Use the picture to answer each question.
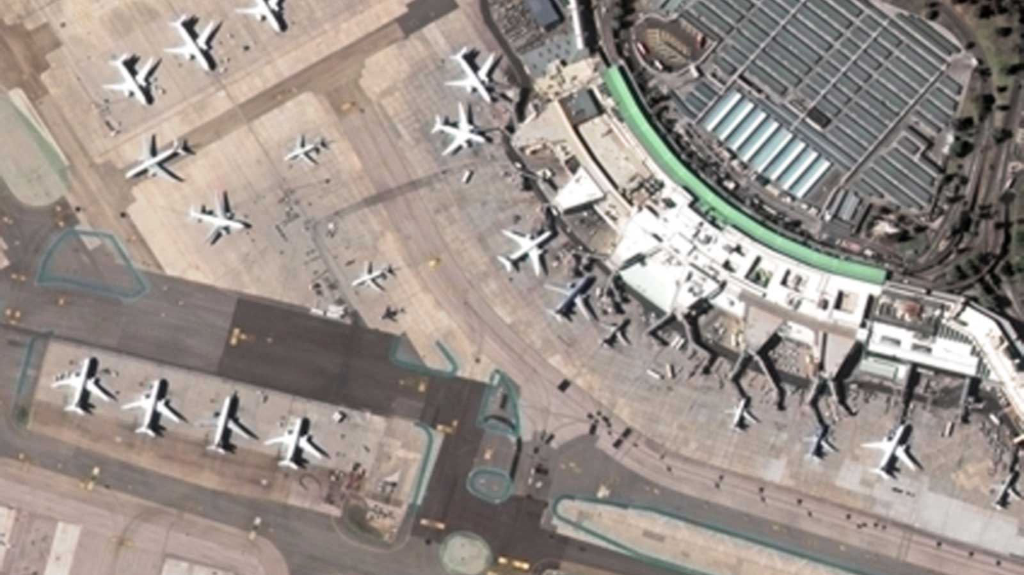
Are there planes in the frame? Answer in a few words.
Yes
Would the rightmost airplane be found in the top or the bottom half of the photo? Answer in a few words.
bottom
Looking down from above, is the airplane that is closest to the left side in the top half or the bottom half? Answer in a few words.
bottom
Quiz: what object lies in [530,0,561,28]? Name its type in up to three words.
building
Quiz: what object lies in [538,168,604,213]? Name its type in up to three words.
building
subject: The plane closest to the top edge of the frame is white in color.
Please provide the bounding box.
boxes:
[236,0,281,33]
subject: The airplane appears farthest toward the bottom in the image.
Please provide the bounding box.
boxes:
[989,469,1024,513]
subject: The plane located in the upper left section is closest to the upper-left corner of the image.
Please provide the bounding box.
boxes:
[104,53,155,104]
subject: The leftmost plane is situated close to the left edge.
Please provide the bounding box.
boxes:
[49,358,108,414]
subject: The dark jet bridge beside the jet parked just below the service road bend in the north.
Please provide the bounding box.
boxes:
[491,88,523,112]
